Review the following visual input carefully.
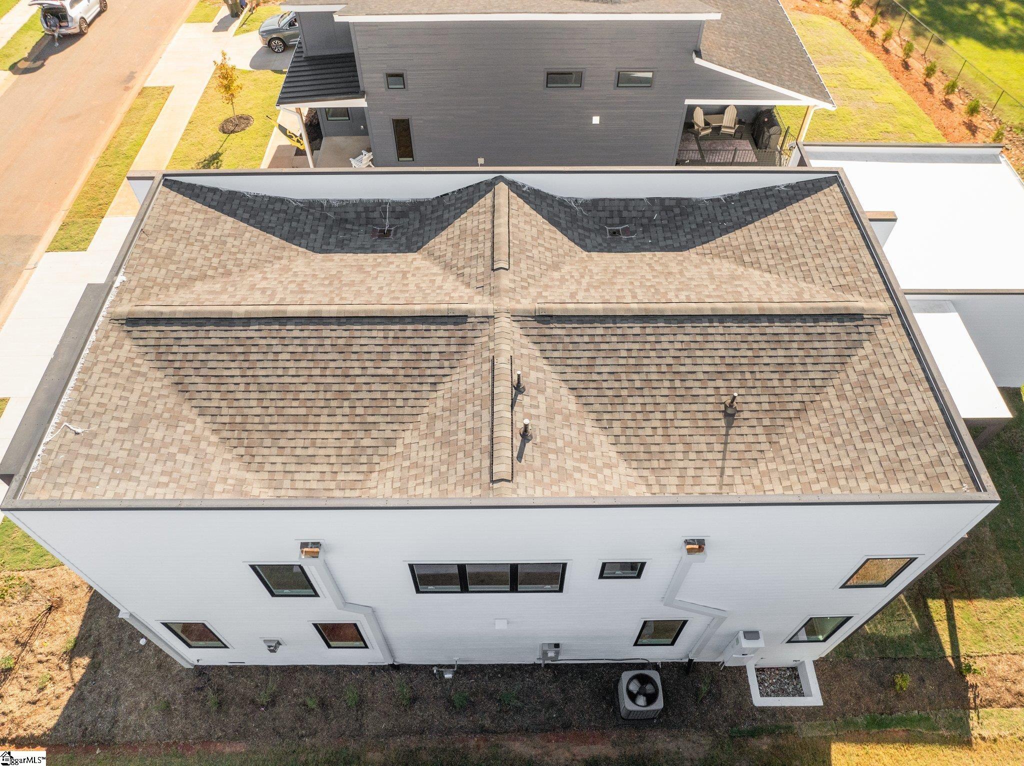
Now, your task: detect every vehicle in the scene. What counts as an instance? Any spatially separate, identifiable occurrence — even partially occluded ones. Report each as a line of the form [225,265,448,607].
[8,0,108,38]
[256,10,300,52]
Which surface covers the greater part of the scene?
buildings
